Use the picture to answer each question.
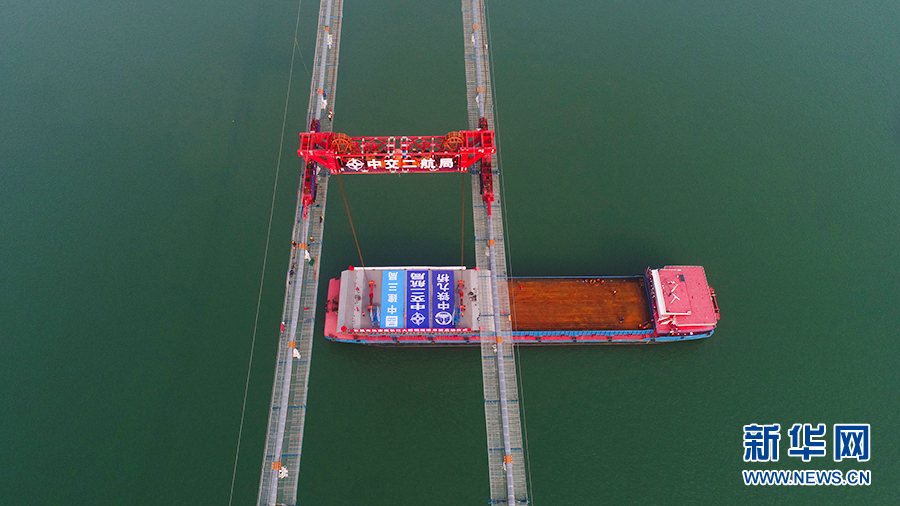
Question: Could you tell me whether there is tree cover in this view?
No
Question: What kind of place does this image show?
port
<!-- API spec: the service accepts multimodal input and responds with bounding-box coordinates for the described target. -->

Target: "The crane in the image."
[297,117,496,221]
